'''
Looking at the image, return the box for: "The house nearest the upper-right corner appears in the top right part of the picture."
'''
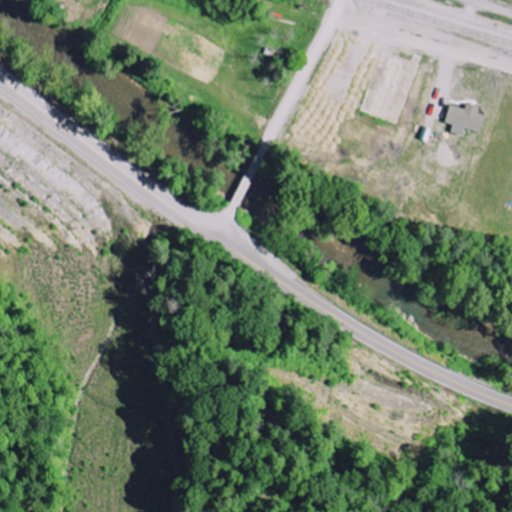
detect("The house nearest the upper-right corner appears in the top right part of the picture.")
[446,104,484,136]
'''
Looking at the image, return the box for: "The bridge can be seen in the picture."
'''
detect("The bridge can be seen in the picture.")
[231,146,267,208]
